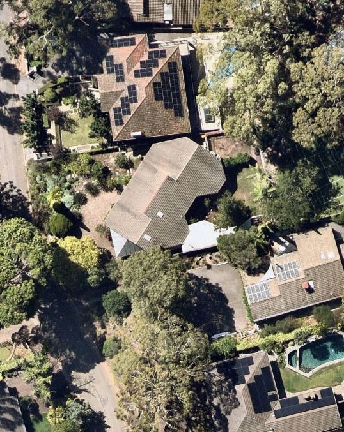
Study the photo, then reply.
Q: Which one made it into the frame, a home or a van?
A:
home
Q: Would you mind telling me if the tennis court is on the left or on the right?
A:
right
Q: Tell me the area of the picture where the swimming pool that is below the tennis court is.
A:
bottom right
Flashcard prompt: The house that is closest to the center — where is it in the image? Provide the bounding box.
[104,136,228,257]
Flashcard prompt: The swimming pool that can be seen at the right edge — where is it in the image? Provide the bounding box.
[286,328,344,376]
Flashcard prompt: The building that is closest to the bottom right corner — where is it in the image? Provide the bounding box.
[205,351,342,432]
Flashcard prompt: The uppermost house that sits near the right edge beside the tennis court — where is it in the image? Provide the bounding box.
[245,226,344,322]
